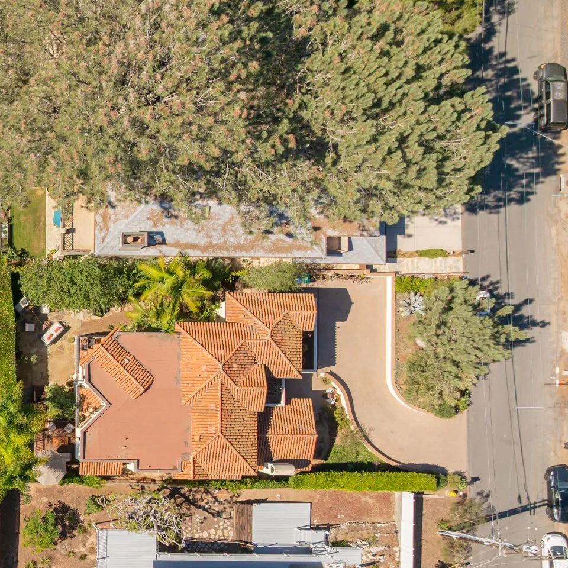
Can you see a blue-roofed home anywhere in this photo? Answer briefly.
No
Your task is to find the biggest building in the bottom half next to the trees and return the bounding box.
[75,292,317,482]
